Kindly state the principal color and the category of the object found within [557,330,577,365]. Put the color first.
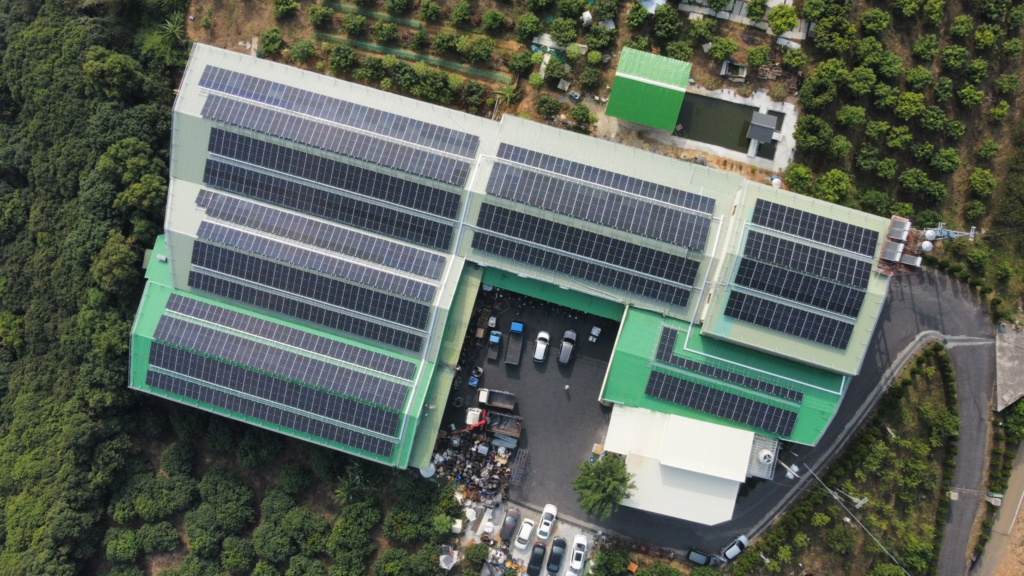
gray car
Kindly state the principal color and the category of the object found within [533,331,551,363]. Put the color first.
white car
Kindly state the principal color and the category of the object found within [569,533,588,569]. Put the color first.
white car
